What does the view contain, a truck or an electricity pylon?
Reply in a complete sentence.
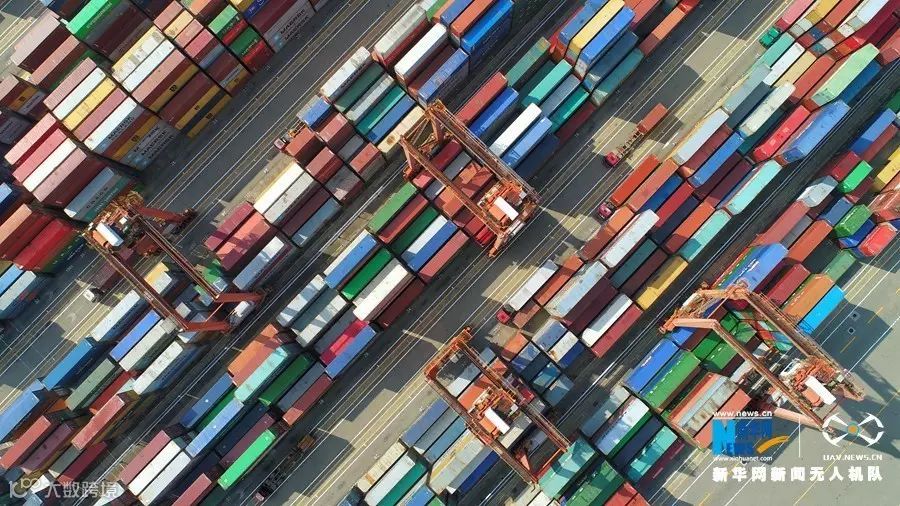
It is a truck that can be seen here.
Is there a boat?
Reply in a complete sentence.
No, I can't see a single boat in this photo.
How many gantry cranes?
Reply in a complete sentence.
In total, there are 4 gantry cranes in the scene.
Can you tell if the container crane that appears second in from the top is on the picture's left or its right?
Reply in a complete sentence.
The container crane that appears second in from the top appears in the left half of the scene.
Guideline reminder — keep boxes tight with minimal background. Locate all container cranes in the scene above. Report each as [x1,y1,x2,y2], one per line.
[658,278,877,438]
[395,98,551,257]
[84,191,273,339]
[418,322,577,492]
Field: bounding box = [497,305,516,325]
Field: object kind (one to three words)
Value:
vehicle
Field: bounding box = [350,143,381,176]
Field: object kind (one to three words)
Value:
shipping container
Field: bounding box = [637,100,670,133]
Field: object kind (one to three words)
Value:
shipping container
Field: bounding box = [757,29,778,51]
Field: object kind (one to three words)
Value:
truck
